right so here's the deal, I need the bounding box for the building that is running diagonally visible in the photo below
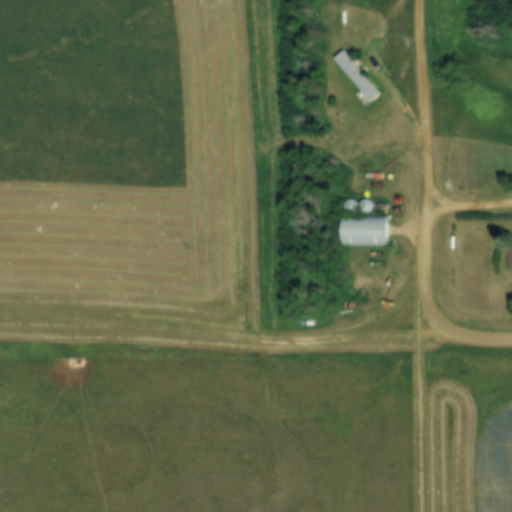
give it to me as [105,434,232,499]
[334,50,380,104]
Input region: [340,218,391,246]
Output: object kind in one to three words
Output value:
building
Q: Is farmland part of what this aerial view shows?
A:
Yes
